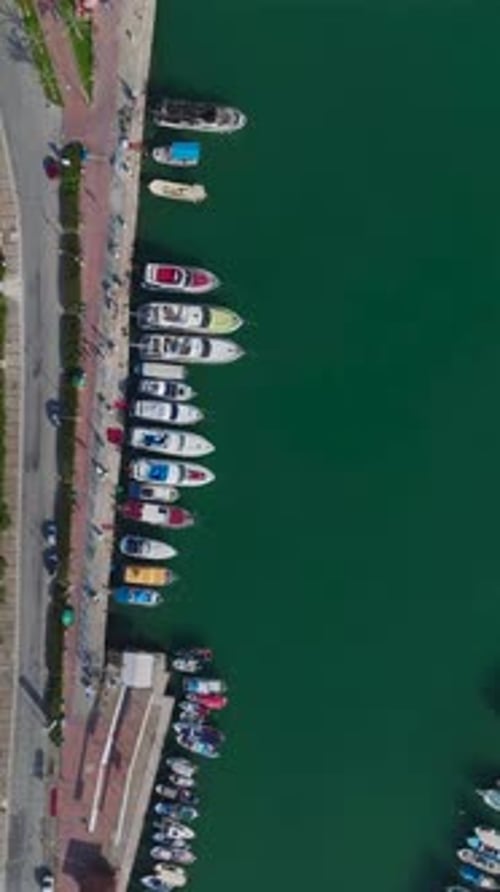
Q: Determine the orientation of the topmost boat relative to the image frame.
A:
horizontally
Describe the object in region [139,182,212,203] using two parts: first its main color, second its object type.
white boat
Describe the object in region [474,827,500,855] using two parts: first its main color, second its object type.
white boat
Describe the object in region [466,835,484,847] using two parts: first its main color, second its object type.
blue boat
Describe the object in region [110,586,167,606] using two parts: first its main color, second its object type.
blue boat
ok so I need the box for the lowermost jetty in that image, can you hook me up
[57,651,176,892]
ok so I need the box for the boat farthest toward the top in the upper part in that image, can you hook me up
[145,100,256,132]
